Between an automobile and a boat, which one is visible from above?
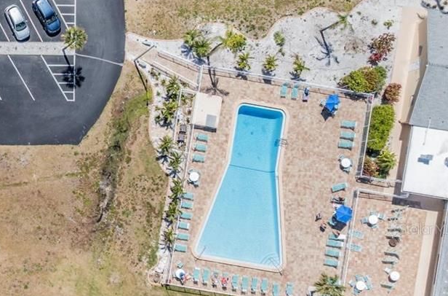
automobile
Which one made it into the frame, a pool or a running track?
pool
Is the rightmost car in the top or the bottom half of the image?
top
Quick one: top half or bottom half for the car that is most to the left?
top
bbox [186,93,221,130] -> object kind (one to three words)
building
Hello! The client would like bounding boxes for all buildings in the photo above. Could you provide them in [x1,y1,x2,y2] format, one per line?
[186,93,221,130]
[389,9,448,296]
